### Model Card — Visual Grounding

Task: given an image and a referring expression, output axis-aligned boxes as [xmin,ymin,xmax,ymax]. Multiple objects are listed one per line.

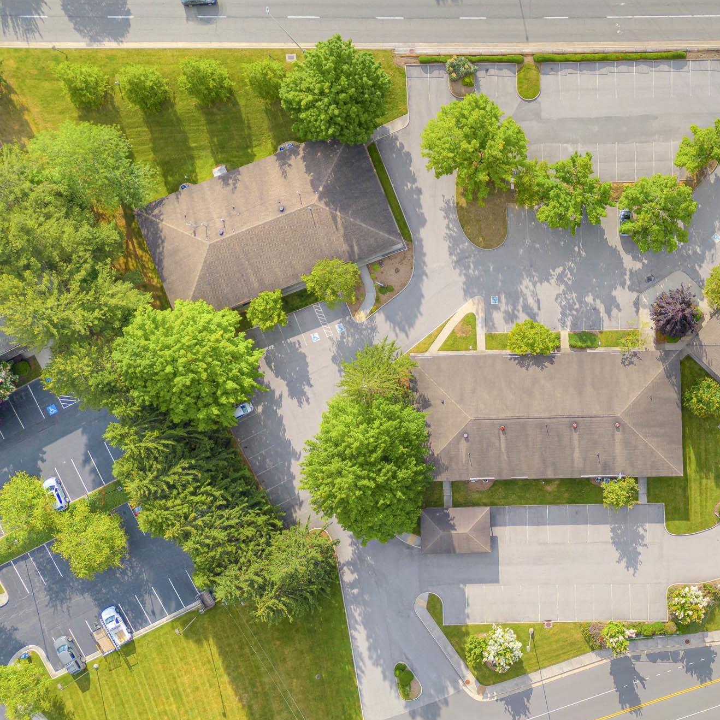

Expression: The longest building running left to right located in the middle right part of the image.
[410,350,684,482]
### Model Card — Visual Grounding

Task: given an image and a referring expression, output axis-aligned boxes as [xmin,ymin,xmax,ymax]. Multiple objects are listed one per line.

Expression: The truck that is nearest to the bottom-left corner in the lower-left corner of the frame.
[56,634,84,675]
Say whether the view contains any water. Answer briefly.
No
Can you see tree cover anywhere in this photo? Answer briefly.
Yes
